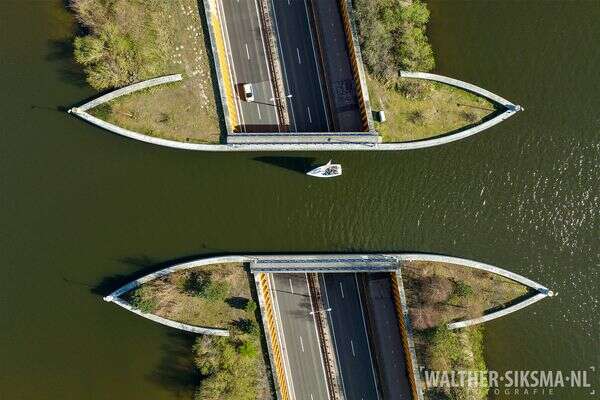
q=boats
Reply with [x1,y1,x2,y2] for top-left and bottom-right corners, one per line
[307,160,343,179]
